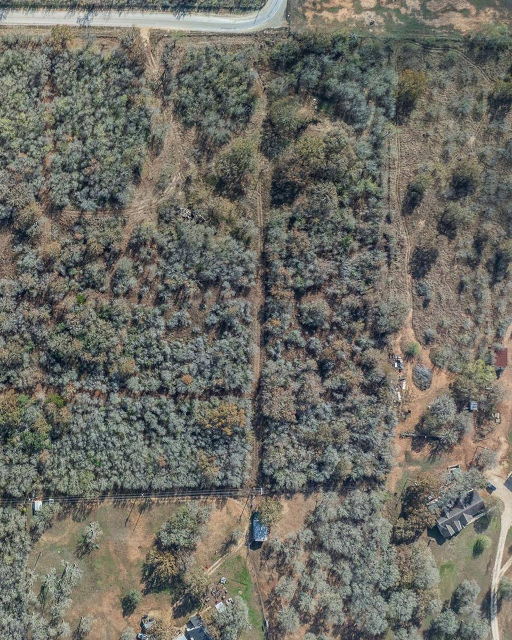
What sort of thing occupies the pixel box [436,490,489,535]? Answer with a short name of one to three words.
house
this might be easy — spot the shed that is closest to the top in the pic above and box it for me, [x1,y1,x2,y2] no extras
[492,348,508,367]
